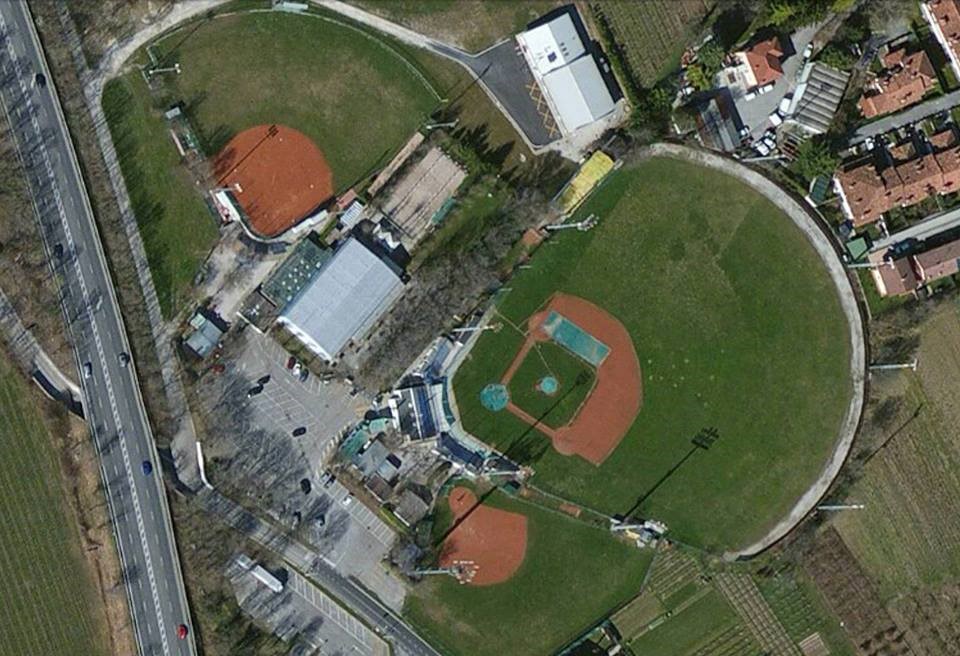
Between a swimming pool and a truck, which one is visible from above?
truck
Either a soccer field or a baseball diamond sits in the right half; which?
baseball diamond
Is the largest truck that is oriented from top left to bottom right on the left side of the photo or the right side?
left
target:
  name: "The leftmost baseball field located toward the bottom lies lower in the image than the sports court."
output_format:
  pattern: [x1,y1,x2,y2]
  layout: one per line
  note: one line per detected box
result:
[404,481,656,656]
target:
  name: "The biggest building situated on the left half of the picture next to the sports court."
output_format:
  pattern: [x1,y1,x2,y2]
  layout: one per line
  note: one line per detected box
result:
[272,237,404,365]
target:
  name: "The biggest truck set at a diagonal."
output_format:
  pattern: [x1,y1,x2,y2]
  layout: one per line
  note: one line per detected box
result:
[239,555,282,590]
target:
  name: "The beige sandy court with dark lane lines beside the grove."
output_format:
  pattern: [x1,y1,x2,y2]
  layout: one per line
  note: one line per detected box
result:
[379,146,469,238]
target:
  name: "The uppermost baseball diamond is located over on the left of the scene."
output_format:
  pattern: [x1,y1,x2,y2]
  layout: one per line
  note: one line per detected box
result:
[150,11,440,239]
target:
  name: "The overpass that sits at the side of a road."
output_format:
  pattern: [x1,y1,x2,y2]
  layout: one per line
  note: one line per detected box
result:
[80,378,166,492]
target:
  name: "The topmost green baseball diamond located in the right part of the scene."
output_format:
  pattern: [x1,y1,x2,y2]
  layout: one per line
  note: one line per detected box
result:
[454,142,866,562]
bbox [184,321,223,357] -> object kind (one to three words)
building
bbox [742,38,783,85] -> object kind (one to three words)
house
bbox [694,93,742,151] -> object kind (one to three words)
shed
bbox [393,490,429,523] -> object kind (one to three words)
building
